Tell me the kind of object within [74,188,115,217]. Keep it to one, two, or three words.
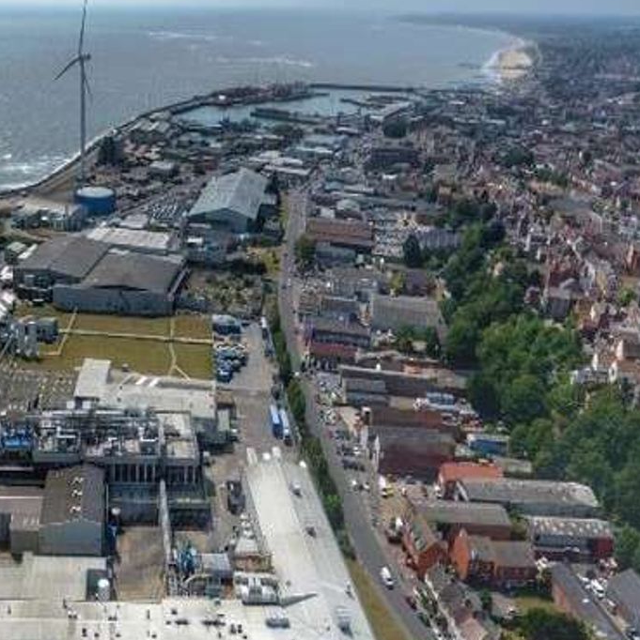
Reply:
storage tank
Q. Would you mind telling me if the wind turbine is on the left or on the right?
left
